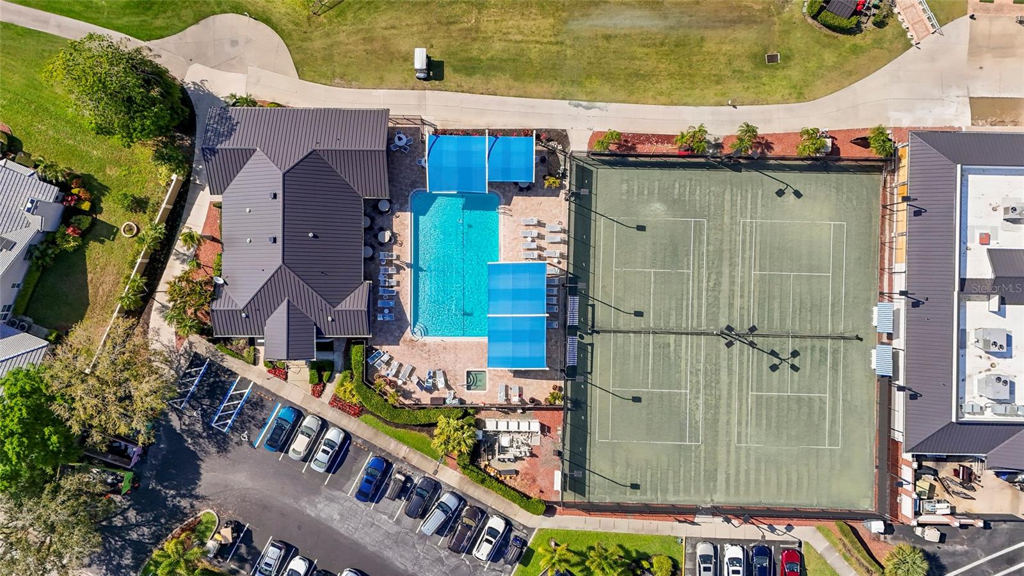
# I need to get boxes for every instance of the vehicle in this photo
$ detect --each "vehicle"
[310,427,345,473]
[288,415,323,460]
[338,563,359,576]
[723,542,746,576]
[402,475,437,521]
[219,518,243,543]
[694,541,716,576]
[353,456,388,502]
[383,474,406,502]
[283,551,311,576]
[422,489,458,538]
[749,543,773,576]
[254,541,288,576]
[911,524,942,541]
[447,505,483,554]
[502,537,522,566]
[472,515,507,562]
[414,46,428,75]
[779,548,802,576]
[263,406,300,453]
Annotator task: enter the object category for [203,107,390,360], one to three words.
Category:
building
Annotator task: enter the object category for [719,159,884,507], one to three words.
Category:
tennis court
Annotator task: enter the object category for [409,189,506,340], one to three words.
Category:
swimming pool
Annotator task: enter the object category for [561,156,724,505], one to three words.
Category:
tennis court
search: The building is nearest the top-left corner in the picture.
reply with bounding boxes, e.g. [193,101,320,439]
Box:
[0,158,67,304]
